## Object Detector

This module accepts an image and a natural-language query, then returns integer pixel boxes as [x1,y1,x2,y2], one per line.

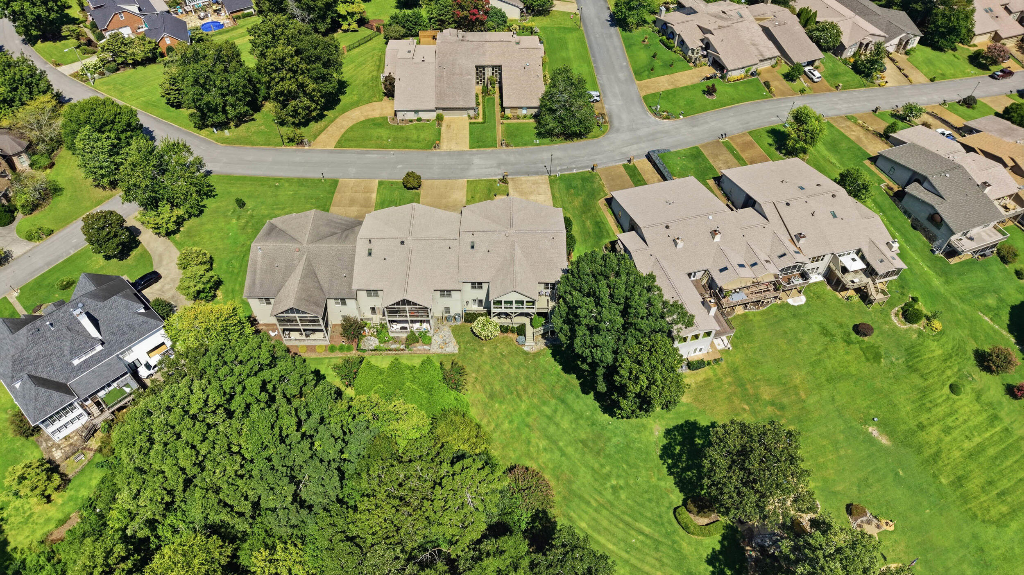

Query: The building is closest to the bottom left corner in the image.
[0,272,169,443]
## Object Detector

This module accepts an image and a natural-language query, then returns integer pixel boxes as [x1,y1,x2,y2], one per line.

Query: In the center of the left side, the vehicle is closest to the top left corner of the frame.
[129,267,166,294]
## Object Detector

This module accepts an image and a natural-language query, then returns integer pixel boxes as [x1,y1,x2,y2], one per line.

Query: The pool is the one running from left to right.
[197,21,229,33]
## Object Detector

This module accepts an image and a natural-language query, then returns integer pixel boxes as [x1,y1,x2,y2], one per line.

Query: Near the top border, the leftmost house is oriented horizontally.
[87,0,193,55]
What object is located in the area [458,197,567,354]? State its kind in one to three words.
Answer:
house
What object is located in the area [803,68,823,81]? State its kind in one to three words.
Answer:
vehicle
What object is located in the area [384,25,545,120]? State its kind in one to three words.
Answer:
house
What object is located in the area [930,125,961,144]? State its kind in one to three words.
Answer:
vehicle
